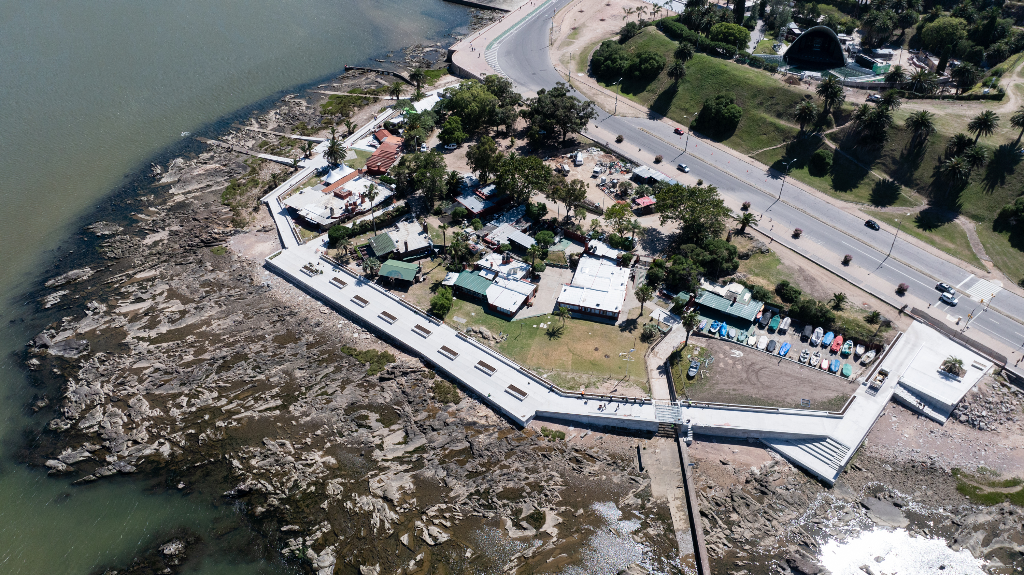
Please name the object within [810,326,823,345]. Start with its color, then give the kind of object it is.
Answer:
white boat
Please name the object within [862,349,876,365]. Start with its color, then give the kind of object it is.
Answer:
white boat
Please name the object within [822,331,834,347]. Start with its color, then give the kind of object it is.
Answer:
blue boat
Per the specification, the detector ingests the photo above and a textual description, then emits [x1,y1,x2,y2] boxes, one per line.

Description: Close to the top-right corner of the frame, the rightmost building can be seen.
[910,51,939,72]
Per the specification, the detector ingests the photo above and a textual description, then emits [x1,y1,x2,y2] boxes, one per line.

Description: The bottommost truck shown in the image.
[864,361,895,393]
